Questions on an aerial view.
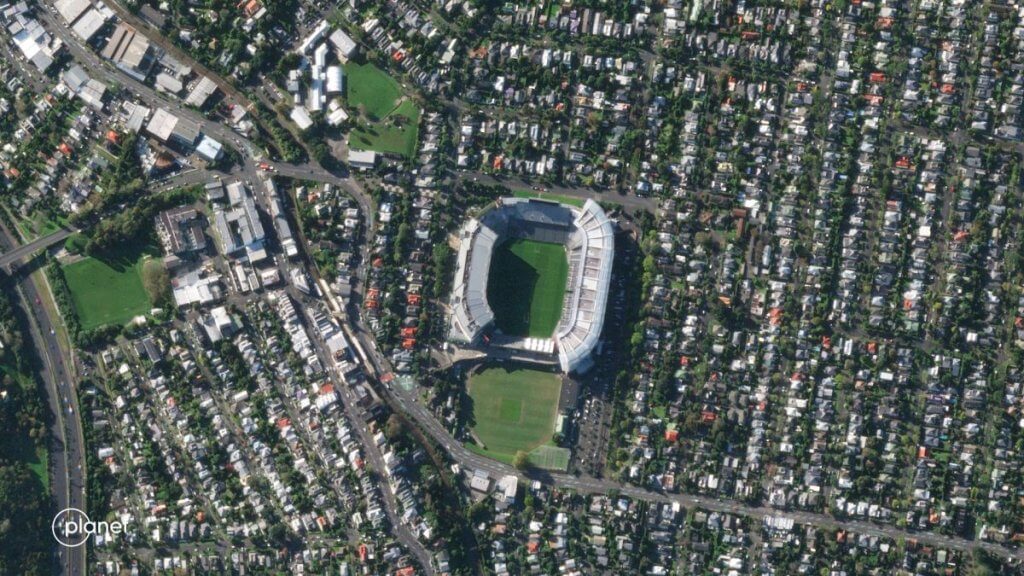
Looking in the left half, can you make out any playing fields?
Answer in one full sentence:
Yes, I can see a playing field in the left half.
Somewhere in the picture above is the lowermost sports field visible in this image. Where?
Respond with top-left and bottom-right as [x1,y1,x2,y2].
[468,367,562,455]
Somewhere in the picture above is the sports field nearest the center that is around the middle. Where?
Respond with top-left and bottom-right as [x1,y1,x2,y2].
[488,239,569,338]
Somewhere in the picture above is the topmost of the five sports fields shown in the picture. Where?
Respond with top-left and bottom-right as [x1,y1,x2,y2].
[345,63,403,125]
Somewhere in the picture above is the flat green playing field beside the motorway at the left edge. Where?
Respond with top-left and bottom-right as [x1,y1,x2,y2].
[62,257,149,331]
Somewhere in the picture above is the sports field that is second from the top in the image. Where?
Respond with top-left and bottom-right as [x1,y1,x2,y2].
[347,99,419,157]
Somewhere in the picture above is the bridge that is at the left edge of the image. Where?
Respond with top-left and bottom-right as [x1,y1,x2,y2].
[0,225,80,267]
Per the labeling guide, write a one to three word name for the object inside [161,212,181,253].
building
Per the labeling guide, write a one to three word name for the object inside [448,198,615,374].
stadium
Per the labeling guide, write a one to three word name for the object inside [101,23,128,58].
shed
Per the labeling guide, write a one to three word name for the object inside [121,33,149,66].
shed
